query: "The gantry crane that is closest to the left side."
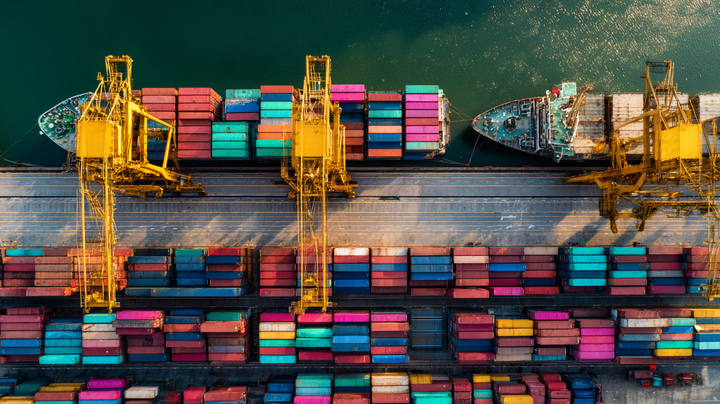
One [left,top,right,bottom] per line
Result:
[73,60,212,311]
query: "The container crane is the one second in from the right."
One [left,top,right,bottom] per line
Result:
[284,60,364,311]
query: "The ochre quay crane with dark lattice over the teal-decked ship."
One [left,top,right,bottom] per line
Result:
[562,60,720,311]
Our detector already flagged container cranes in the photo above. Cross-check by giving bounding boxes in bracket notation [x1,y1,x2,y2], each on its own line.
[284,60,364,311]
[562,60,720,311]
[73,60,212,311]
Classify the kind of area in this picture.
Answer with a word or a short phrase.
port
